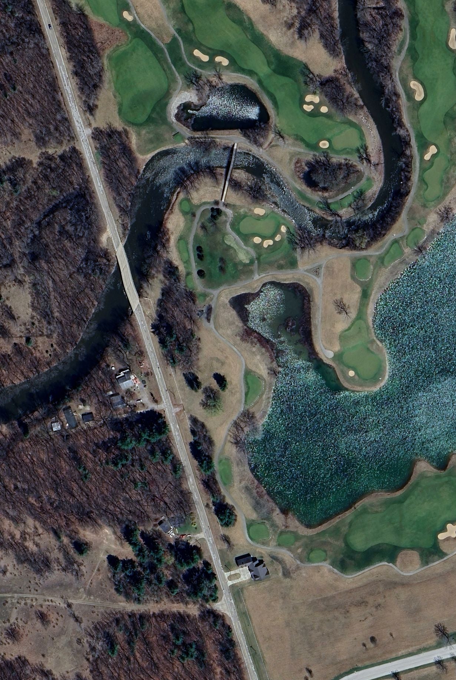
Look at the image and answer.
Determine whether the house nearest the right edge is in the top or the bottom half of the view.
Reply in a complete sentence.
You can find the house nearest the right edge in the bottom half.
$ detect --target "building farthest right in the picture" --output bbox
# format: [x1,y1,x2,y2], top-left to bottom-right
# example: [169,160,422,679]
[236,555,270,583]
